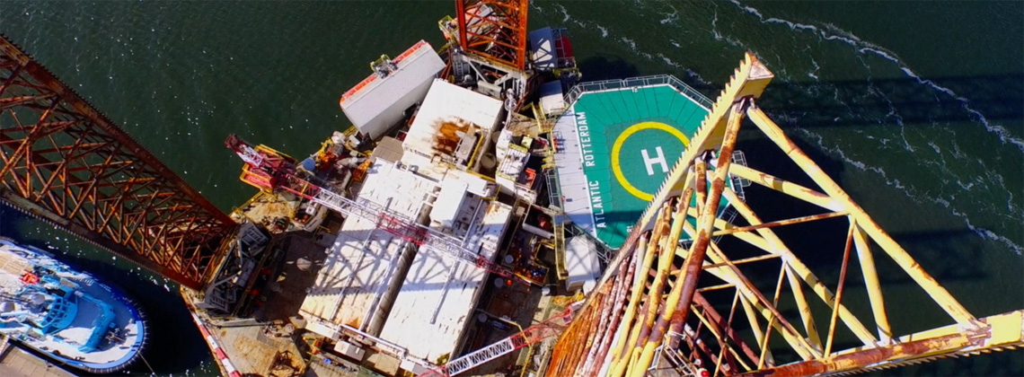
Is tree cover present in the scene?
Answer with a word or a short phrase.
No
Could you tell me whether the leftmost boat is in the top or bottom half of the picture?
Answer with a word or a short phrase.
bottom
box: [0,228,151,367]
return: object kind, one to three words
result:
boat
